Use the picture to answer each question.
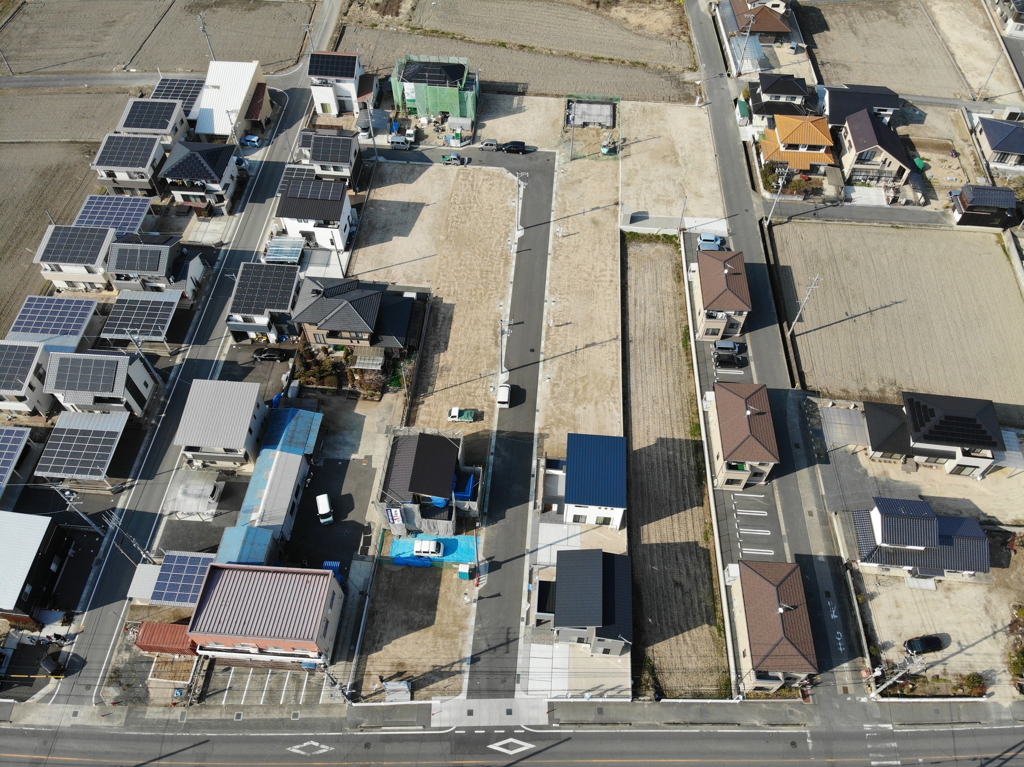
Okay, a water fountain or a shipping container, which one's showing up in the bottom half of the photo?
shipping container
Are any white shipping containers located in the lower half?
No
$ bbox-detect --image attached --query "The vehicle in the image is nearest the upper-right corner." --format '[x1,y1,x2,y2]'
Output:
[944,186,963,199]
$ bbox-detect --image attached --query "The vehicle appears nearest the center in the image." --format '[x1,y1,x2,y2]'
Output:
[497,380,511,406]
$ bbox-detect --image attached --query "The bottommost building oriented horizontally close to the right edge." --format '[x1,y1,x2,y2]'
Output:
[845,497,990,574]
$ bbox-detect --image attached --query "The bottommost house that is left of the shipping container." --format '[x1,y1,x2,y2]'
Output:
[0,513,78,642]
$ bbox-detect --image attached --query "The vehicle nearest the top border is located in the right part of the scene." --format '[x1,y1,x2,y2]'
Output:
[785,39,800,55]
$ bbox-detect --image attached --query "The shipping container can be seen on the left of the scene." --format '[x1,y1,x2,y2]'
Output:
[135,621,203,655]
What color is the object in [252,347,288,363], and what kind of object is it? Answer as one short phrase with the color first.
black car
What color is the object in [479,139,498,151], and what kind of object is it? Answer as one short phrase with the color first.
gray vehicle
